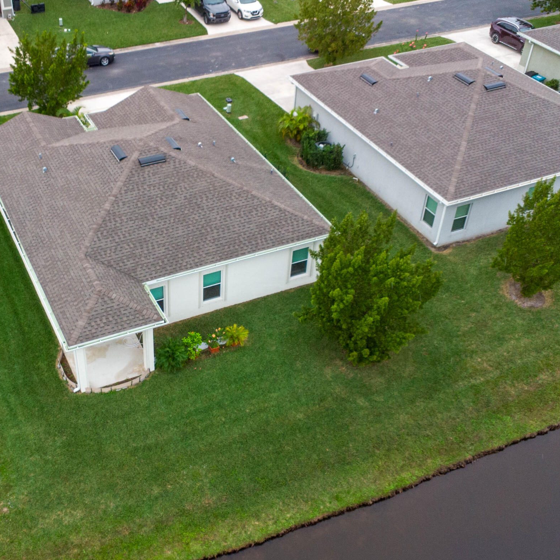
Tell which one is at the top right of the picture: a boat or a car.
car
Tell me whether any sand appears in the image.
No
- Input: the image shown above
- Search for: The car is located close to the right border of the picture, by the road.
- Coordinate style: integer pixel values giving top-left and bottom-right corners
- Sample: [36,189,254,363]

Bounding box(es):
[490,17,537,51]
